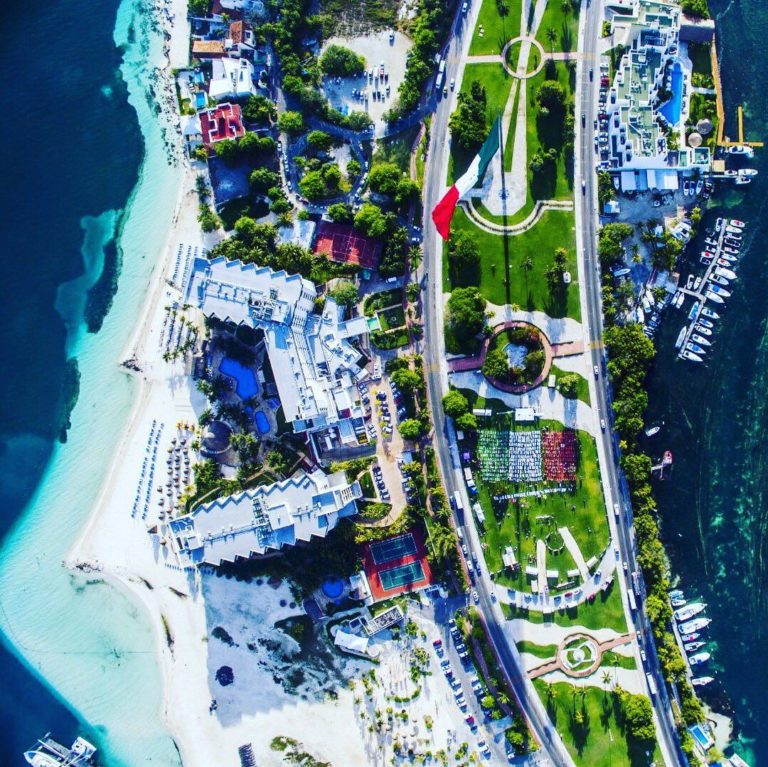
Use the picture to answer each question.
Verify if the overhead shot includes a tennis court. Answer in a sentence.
Yes, a tennis court is visible in the scene.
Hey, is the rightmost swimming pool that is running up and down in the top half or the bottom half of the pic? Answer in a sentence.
Seen from above, the rightmost swimming pool that is running up and down lies in the top half of the view.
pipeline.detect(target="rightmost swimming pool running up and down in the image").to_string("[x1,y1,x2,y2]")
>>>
[657,61,684,127]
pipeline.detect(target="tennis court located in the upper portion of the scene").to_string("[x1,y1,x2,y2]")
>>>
[314,219,383,270]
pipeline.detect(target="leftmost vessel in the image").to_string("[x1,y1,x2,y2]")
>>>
[23,730,98,767]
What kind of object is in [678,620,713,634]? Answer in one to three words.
boat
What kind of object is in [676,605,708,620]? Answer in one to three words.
boat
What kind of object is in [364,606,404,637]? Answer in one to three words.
building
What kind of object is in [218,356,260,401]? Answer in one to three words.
swimming pool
